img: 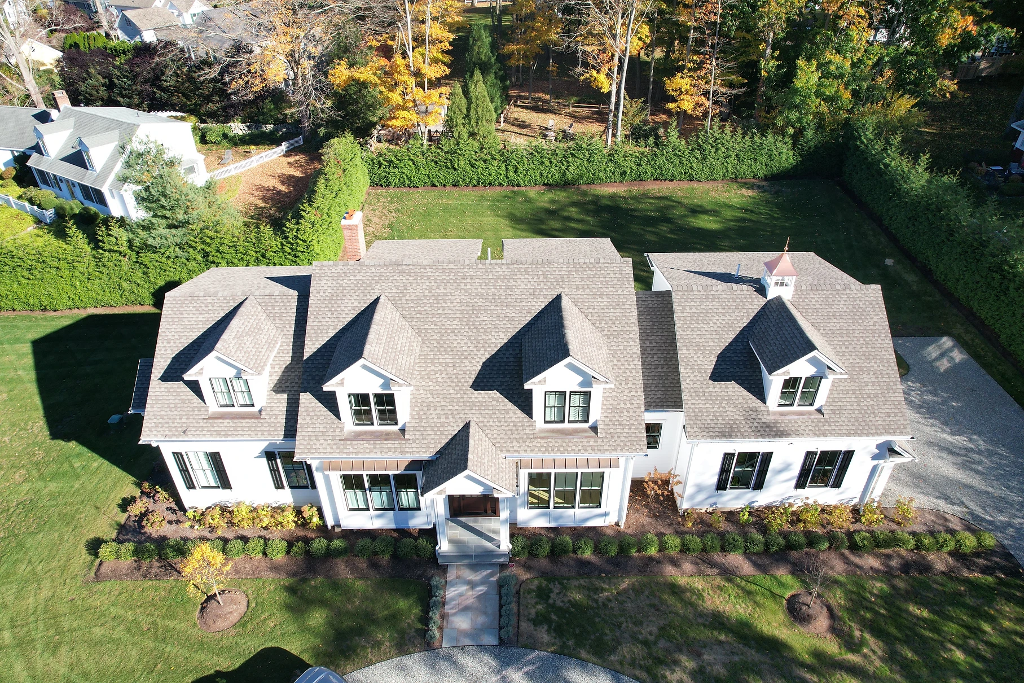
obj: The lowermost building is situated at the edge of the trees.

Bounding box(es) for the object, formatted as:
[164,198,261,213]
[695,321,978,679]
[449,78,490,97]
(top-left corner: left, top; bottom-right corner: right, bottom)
[125,212,925,564]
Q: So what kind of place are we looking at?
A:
residential area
